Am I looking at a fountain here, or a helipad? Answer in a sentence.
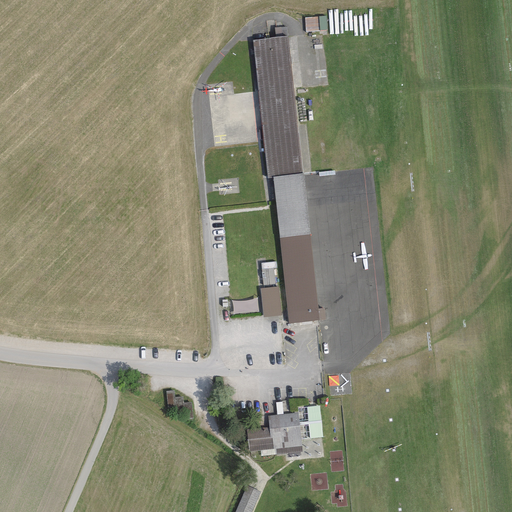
This aerial view contains a helipad.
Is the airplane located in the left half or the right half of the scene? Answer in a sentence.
You can find the airplane on the right side of the picture.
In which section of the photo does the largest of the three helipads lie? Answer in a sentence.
The largest of the three helipads is located in the top region of the scene.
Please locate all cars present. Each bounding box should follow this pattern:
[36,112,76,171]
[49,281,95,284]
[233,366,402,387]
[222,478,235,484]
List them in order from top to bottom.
[253,33,264,38]
[211,214,223,220]
[212,222,224,228]
[212,230,225,234]
[214,236,224,241]
[214,244,224,248]
[218,281,229,286]
[224,310,230,320]
[272,321,276,334]
[283,328,295,336]
[284,336,296,344]
[324,342,328,354]
[153,348,158,358]
[176,350,182,360]
[193,350,198,362]
[276,352,282,364]
[246,354,252,366]
[270,354,275,364]
[286,386,292,398]
[274,387,280,399]
[254,401,260,412]
[240,402,245,411]
[264,402,268,414]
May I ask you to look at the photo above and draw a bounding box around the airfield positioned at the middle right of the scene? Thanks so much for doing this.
[304,0,512,512]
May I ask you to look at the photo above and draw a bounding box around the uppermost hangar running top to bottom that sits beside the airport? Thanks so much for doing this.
[252,36,304,176]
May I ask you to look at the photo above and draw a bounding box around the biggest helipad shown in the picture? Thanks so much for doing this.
[207,82,258,146]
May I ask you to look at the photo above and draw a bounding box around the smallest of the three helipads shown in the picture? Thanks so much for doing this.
[313,68,328,80]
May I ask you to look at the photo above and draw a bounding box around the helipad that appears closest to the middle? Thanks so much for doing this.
[206,178,240,194]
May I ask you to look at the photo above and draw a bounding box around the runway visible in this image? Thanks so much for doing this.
[392,0,512,512]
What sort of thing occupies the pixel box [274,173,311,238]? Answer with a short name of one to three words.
hangar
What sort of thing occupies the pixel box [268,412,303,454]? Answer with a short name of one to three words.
house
